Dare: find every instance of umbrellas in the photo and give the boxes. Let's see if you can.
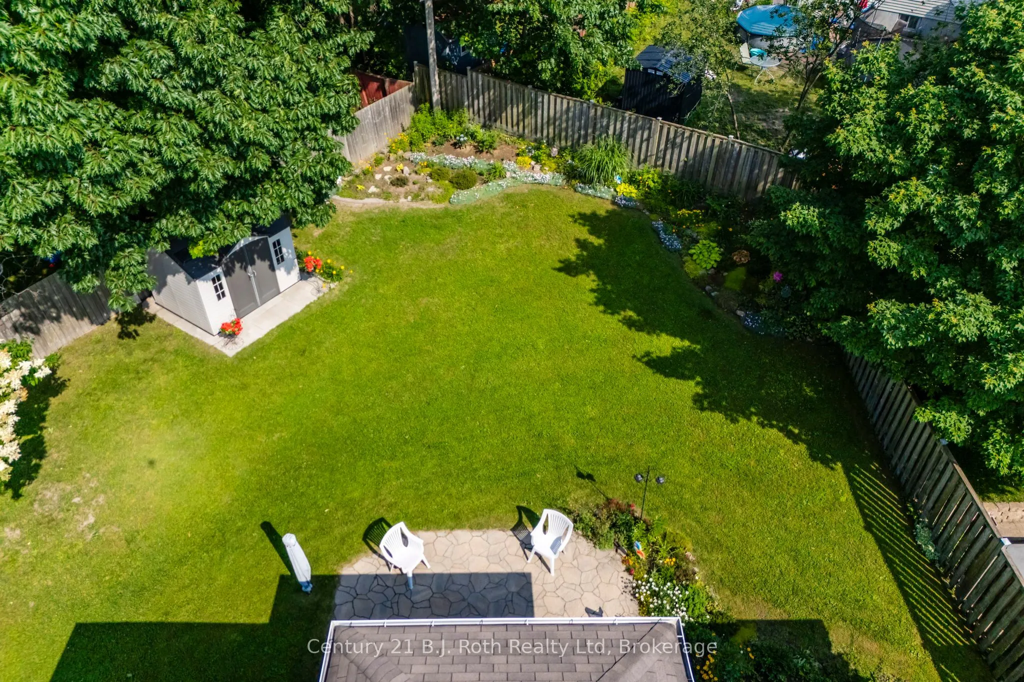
[283,534,312,596]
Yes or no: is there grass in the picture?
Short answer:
Yes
